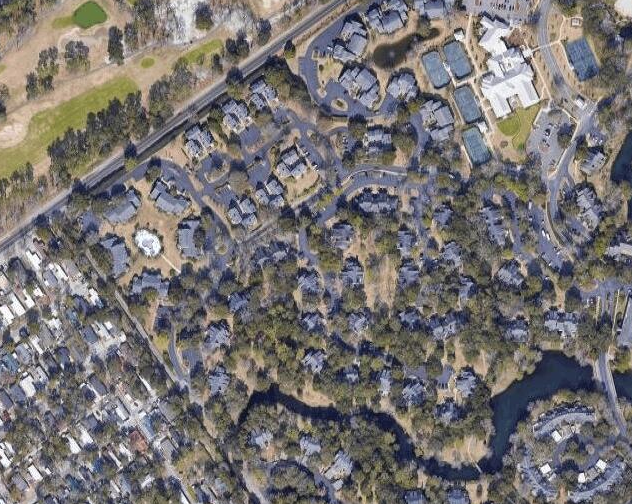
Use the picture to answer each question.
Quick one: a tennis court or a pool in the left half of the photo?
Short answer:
pool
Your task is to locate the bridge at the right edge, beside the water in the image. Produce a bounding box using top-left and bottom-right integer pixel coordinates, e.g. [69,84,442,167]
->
[597,351,621,402]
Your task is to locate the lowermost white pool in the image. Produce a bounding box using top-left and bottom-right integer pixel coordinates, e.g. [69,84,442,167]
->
[134,229,161,257]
